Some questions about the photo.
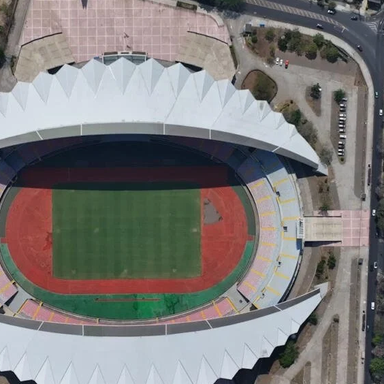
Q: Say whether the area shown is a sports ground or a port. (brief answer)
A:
sports ground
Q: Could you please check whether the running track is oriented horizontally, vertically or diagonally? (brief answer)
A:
horizontally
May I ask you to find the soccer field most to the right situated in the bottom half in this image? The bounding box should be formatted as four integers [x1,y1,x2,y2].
[53,183,201,279]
